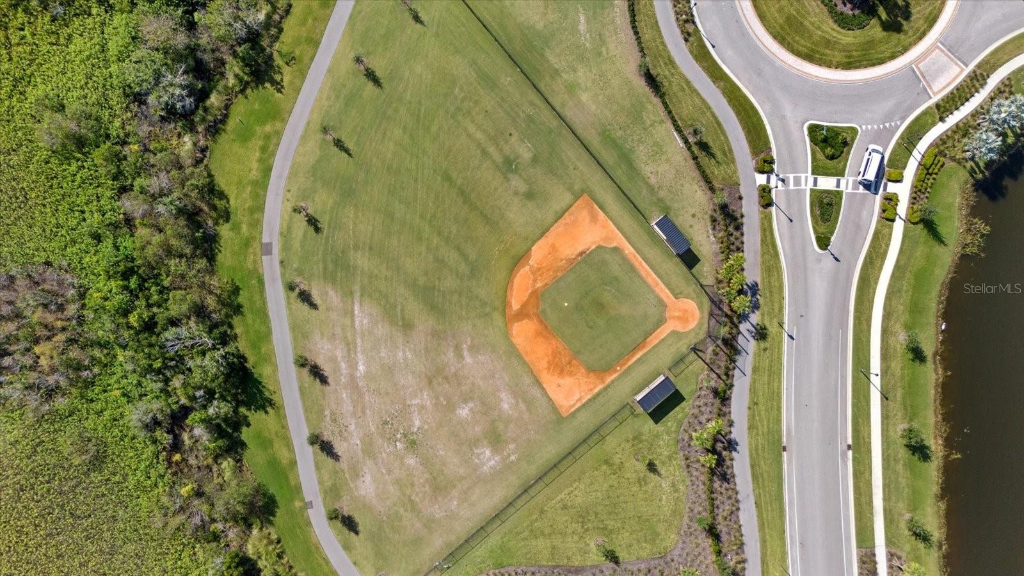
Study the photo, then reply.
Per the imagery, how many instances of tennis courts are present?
none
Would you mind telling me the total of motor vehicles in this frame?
1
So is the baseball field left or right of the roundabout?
on the left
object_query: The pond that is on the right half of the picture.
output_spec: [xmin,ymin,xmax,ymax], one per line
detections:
[938,138,1024,576]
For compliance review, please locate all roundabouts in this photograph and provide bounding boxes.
[698,0,998,121]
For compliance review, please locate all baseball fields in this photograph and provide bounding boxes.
[280,0,710,576]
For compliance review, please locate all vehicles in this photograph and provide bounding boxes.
[859,143,887,186]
